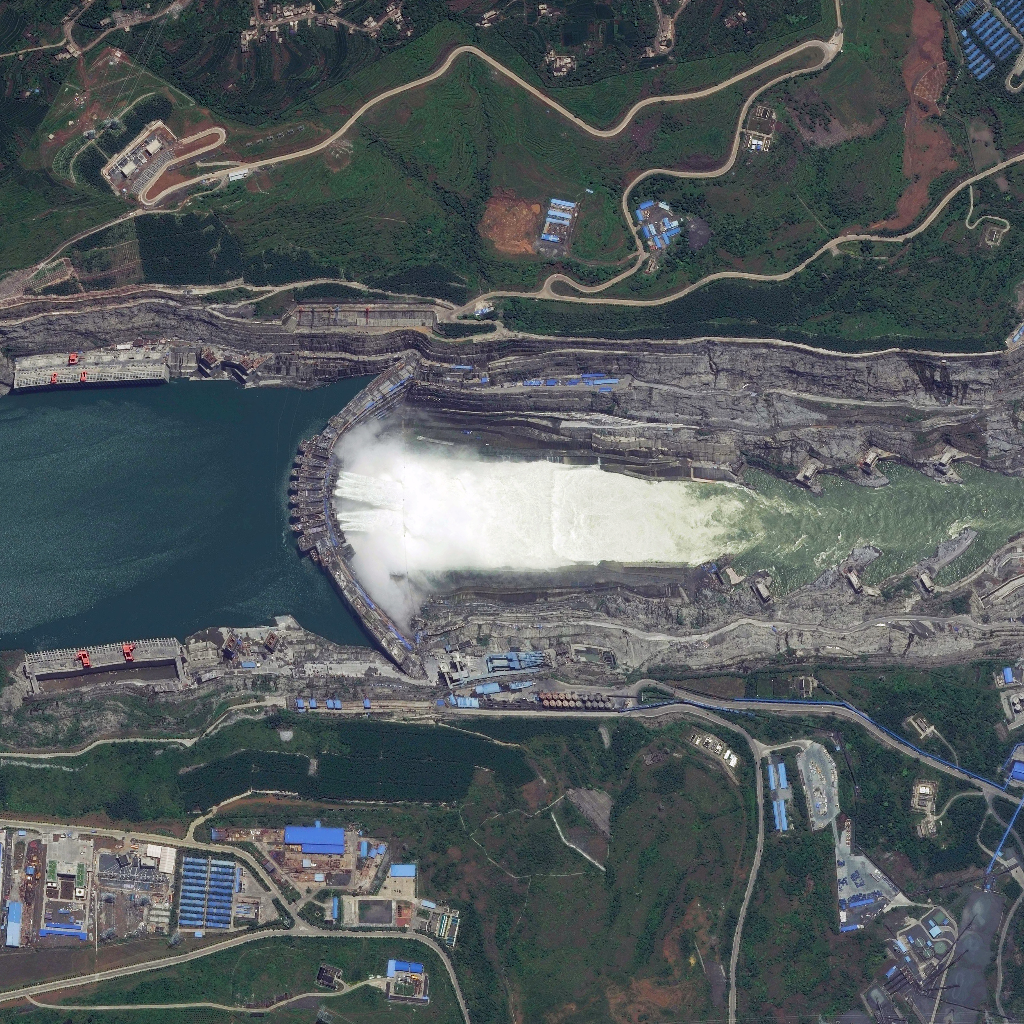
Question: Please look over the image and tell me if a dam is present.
Yes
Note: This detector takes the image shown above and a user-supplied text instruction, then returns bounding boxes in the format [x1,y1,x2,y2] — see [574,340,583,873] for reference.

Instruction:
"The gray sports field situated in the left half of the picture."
[359,900,392,923]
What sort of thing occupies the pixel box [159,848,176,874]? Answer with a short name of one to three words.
building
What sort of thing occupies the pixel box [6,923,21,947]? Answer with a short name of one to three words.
building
